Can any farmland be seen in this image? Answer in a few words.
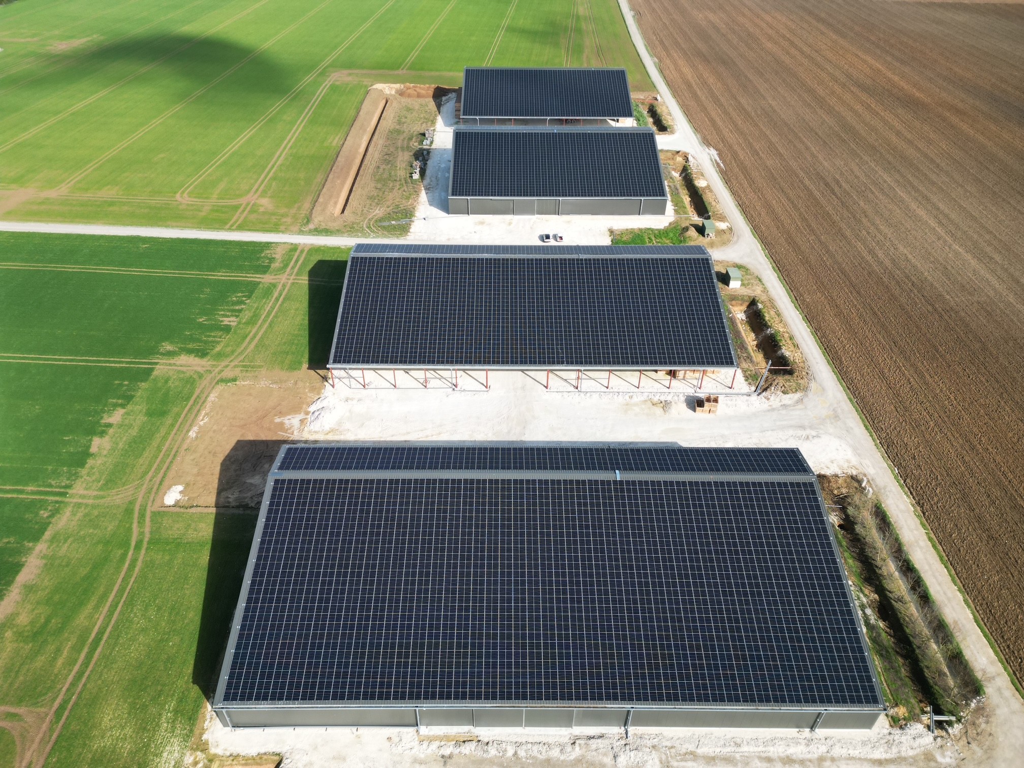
Yes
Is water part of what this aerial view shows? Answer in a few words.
No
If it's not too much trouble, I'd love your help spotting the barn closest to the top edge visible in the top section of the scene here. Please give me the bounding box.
[460,66,637,127]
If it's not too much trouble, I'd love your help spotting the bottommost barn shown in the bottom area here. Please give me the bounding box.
[211,445,888,740]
